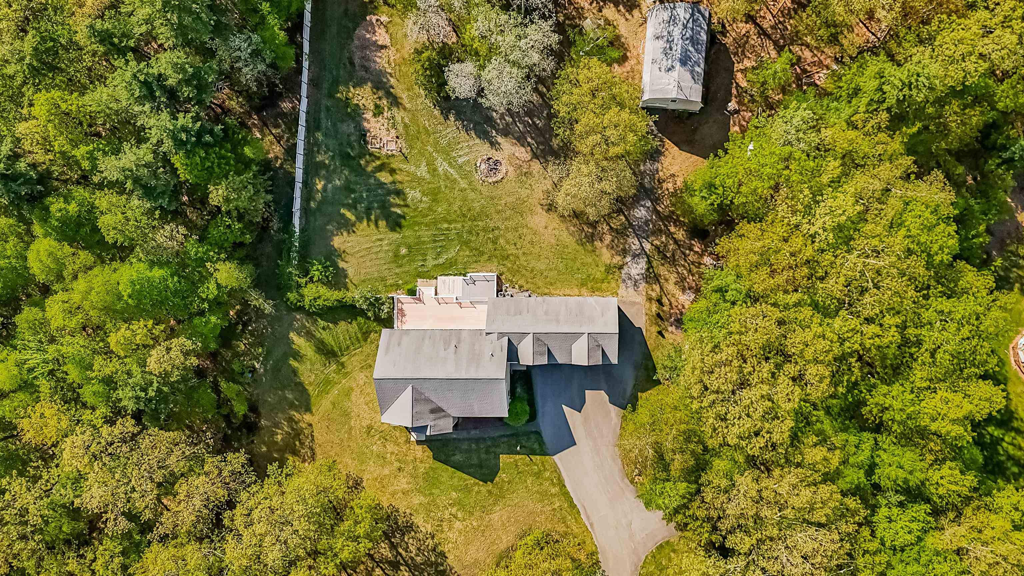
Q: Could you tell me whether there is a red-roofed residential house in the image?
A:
No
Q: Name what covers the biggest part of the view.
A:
trees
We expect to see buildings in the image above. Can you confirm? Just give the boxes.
[373,296,620,437]
[639,2,712,113]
